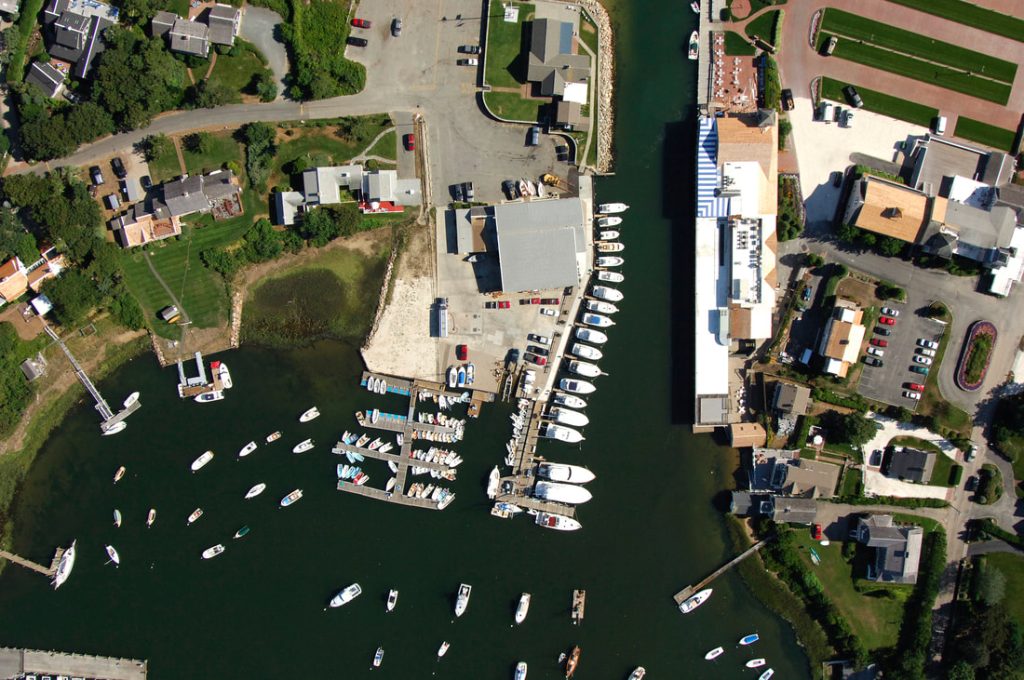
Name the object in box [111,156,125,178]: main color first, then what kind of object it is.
black car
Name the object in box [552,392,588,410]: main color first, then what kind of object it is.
white boat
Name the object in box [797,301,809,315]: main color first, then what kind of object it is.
gray vehicle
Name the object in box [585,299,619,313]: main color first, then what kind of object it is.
white boat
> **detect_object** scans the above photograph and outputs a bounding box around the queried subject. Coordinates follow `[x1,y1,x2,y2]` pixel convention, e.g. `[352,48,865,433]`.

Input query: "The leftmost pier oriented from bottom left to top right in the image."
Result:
[100,401,142,432]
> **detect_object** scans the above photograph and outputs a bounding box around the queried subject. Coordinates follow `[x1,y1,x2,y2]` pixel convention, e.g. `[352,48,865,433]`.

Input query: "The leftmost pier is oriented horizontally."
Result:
[0,547,65,577]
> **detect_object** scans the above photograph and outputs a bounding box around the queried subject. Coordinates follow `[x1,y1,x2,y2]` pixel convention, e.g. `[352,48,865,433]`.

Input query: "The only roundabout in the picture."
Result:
[955,319,998,391]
